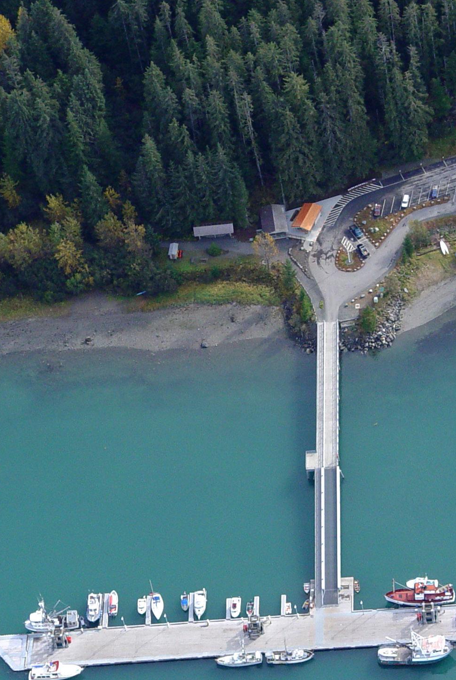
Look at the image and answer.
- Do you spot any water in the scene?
Yes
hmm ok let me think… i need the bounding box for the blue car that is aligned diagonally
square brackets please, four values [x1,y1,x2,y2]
[348,224,365,240]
